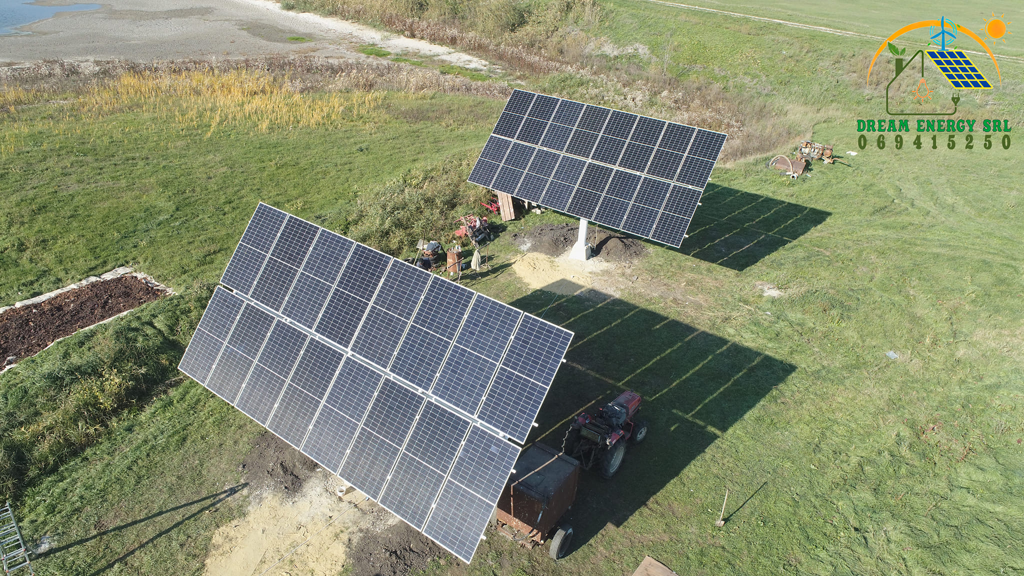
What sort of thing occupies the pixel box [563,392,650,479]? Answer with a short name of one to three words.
work vehicle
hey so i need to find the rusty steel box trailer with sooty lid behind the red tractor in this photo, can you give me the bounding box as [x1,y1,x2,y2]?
[493,435,581,554]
